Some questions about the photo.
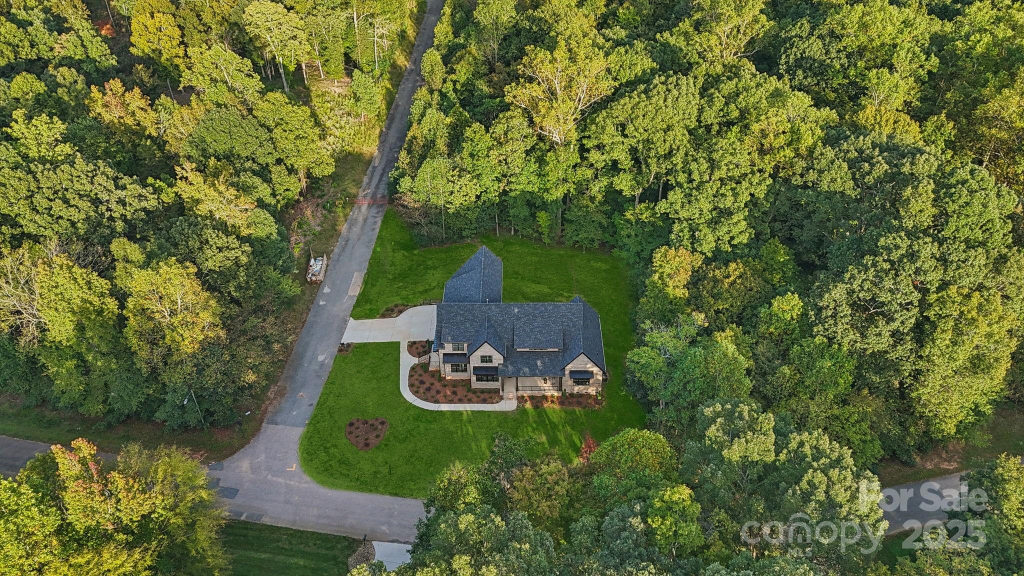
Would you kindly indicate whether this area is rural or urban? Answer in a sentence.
The area shown here is rural.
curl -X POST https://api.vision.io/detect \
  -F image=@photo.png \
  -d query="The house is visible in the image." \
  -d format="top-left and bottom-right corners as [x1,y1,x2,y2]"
[418,246,607,402]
